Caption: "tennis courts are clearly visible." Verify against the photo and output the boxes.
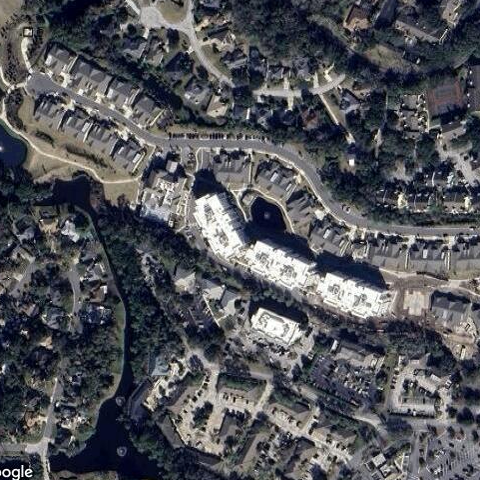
[426,80,465,114]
